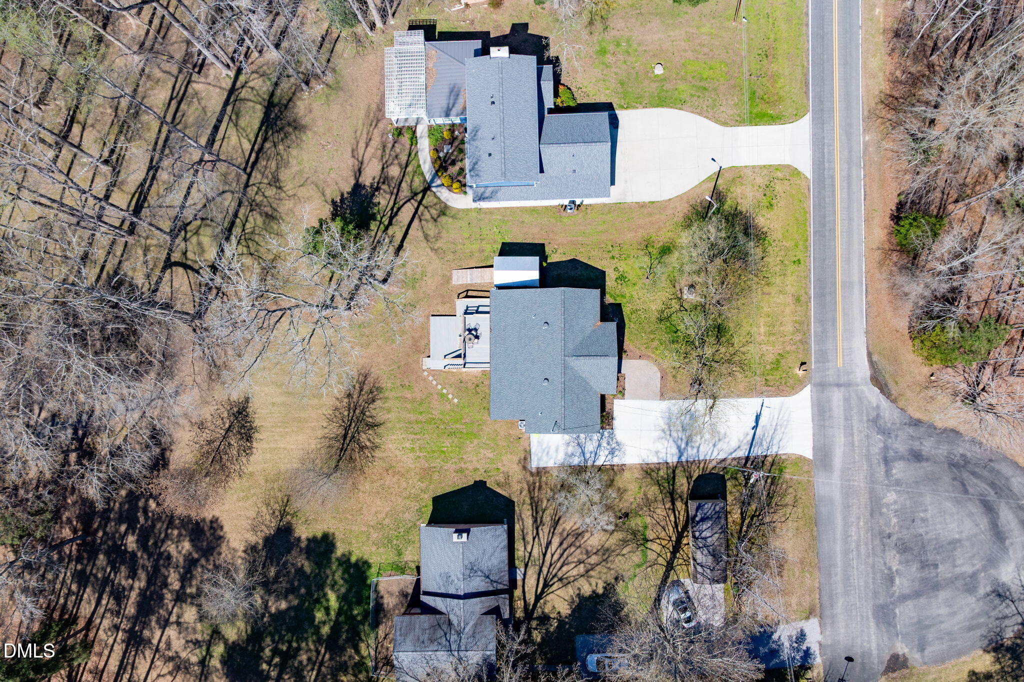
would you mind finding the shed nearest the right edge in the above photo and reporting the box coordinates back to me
[686,499,728,587]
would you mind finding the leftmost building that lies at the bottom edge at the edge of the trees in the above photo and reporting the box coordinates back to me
[393,512,510,682]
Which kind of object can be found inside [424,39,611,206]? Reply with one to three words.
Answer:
house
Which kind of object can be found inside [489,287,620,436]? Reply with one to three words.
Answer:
house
